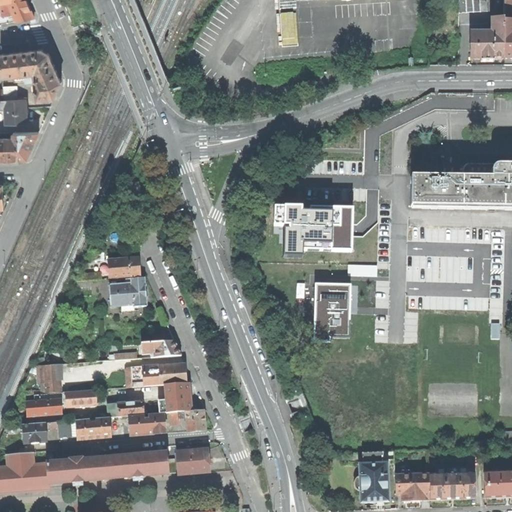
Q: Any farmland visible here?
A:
No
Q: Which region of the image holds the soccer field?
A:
bottom right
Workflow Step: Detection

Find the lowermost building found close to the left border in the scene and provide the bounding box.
[0,450,170,494]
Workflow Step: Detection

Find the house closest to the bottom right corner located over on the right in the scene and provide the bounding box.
[484,470,512,498]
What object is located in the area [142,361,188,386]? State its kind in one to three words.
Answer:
house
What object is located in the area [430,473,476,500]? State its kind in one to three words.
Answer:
house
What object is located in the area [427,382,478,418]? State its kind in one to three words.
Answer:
sports court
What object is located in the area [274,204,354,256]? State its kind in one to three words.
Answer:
building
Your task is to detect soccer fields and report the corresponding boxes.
[418,313,512,440]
